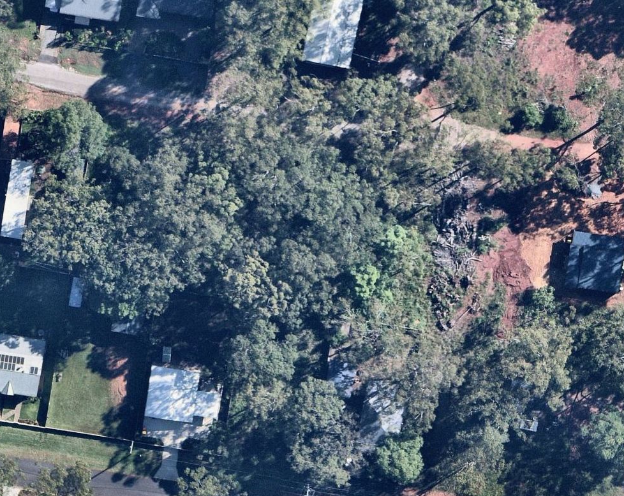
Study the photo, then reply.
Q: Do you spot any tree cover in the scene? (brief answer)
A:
Yes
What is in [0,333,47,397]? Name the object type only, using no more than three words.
house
